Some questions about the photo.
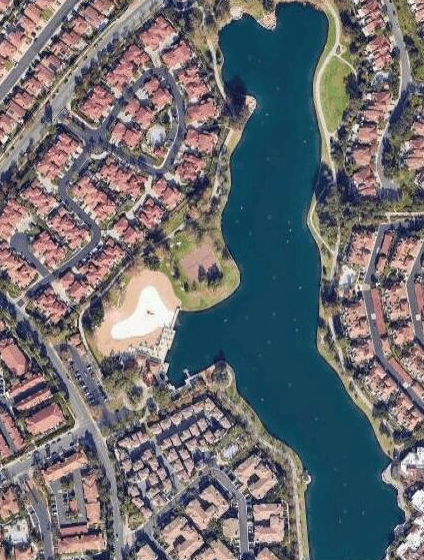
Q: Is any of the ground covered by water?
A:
Yes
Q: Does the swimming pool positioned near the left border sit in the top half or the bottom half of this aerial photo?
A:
bottom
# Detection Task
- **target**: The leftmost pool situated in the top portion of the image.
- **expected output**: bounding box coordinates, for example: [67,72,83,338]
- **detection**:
[147,124,166,145]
